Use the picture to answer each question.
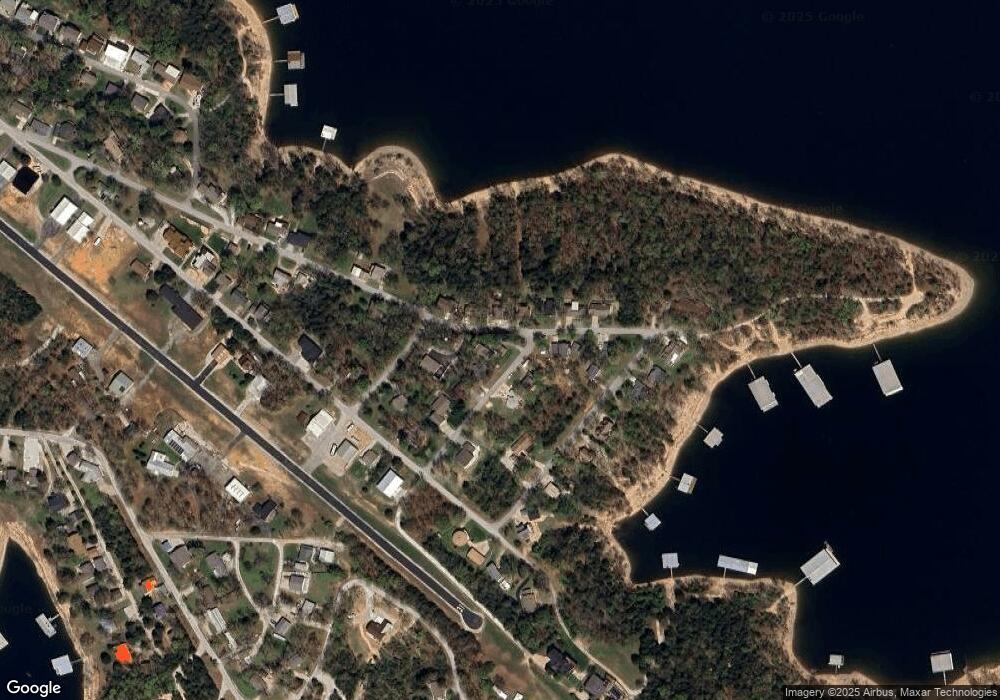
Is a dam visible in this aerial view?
No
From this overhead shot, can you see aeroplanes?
No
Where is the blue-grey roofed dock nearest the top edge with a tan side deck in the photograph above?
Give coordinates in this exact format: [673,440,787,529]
[262,4,298,24]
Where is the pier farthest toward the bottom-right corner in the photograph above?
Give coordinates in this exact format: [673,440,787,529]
[931,650,953,687]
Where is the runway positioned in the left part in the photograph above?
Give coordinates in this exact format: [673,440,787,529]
[0,220,482,630]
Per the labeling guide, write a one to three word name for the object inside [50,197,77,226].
hangar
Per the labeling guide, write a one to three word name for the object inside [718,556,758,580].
pier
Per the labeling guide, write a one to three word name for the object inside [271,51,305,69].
pier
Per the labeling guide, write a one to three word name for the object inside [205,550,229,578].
house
